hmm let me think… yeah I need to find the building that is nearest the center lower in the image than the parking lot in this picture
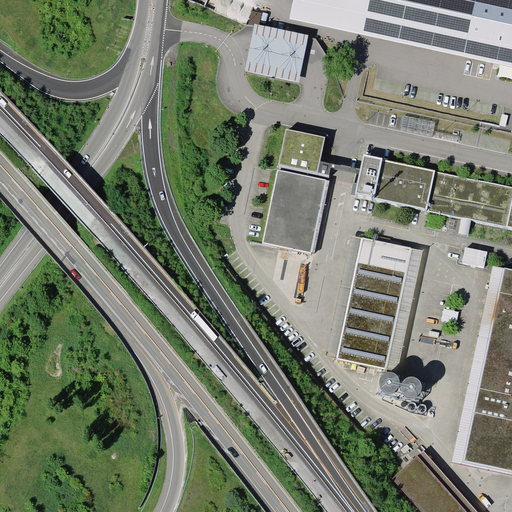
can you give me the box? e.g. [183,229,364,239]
[264,170,328,254]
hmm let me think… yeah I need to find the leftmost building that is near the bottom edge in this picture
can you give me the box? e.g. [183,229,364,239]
[394,456,466,512]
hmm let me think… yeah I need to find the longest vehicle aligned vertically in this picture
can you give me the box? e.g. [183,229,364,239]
[294,266,308,304]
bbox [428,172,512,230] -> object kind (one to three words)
building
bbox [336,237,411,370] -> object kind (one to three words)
building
